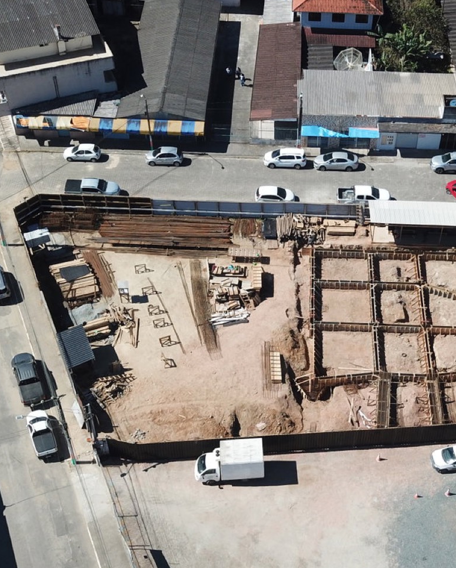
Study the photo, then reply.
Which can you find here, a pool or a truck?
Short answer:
truck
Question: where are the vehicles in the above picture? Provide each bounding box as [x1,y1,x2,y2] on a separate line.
[193,439,265,485]
[25,407,65,470]
[431,440,456,474]
[445,181,456,197]
[335,181,392,204]
[315,151,360,170]
[63,143,101,161]
[63,174,121,197]
[145,145,184,164]
[256,184,295,201]
[264,146,307,167]
[13,354,49,412]
[0,267,11,304]
[431,151,456,172]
